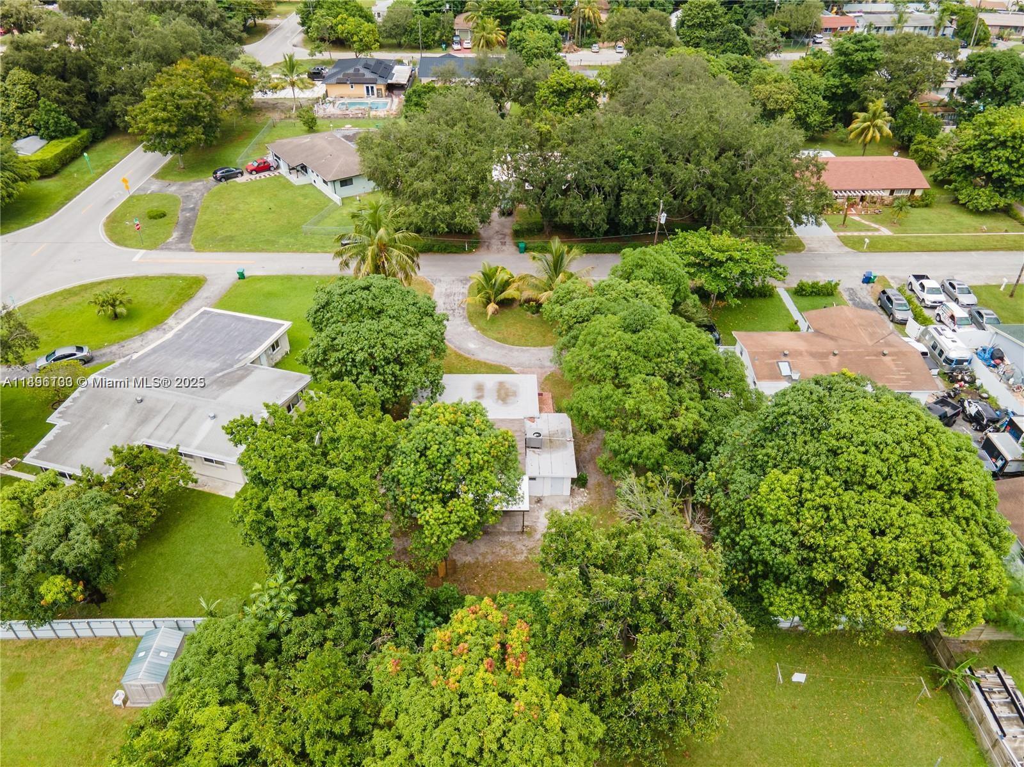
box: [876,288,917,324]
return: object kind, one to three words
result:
car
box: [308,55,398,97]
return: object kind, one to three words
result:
house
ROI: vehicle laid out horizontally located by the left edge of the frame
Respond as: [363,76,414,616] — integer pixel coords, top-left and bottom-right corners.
[28,345,96,372]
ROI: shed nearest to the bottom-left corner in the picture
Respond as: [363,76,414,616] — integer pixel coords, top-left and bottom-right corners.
[119,626,192,712]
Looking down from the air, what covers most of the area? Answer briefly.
trees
